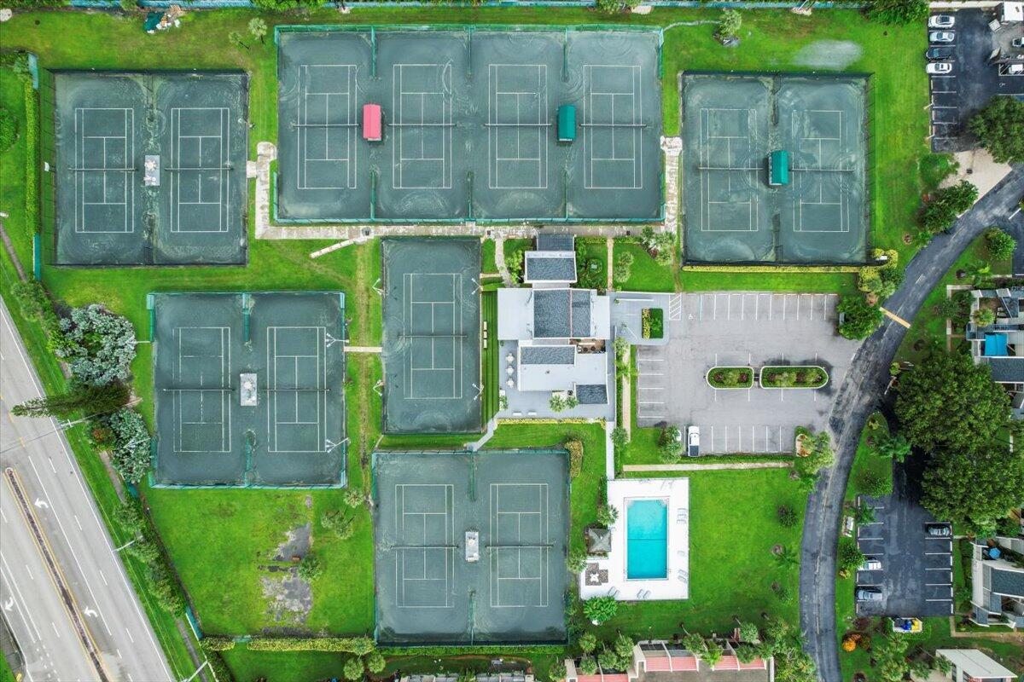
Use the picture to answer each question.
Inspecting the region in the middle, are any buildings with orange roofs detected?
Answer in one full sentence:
No, there is no building with an orange roof in the middle.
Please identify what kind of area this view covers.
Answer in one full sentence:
The area seen from above is a sports ground.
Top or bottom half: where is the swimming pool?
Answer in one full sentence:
The swimming pool is in the bottom half of the image.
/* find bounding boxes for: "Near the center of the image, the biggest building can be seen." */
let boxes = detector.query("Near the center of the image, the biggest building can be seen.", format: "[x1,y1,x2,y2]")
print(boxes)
[497,235,610,405]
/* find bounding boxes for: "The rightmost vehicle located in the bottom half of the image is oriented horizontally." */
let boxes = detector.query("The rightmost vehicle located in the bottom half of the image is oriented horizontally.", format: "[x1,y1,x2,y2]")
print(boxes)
[925,524,951,536]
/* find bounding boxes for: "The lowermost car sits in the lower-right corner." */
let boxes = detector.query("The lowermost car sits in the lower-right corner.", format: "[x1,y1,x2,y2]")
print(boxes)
[856,588,883,601]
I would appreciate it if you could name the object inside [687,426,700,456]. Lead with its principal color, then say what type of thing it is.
white vehicle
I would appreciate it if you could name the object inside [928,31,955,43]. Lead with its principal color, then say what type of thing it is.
white vehicle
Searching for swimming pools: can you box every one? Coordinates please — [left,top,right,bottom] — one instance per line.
[579,478,689,602]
